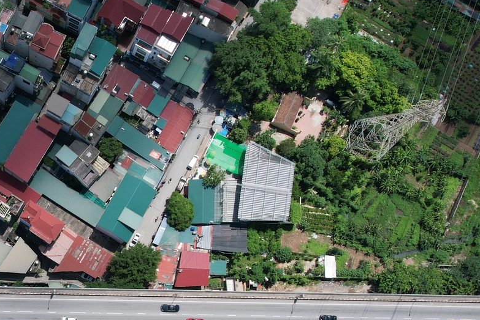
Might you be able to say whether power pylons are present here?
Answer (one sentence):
Yes, there's a power pylon here.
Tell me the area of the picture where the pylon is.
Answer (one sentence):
The pylon sits in the right section of the image.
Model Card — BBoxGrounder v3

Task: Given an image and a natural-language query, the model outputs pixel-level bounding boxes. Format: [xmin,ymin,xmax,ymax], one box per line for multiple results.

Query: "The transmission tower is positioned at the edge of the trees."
[341,103,438,170]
